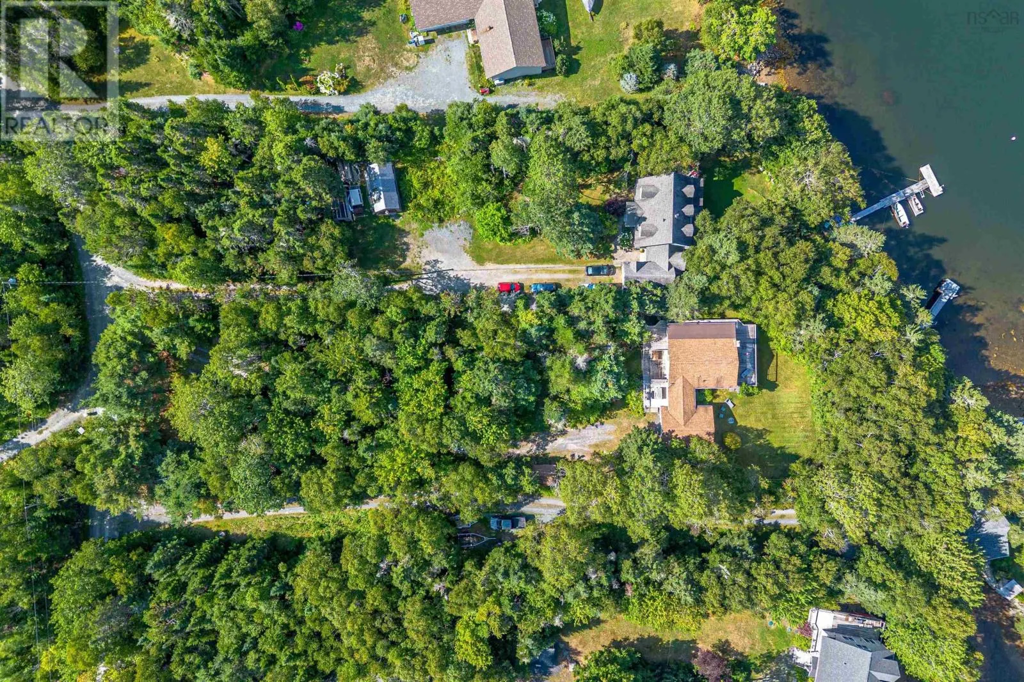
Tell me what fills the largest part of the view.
trees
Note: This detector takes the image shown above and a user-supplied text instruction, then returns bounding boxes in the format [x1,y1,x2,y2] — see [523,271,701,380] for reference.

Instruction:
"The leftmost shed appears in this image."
[366,161,400,216]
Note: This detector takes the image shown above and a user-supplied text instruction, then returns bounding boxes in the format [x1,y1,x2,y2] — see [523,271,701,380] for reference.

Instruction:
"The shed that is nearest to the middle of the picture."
[532,463,555,485]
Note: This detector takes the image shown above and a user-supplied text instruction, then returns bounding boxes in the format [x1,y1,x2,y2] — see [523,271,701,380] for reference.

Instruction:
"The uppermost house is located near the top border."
[410,0,558,80]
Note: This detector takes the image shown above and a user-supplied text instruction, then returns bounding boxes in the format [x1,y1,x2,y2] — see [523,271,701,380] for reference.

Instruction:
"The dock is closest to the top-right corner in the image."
[849,163,945,219]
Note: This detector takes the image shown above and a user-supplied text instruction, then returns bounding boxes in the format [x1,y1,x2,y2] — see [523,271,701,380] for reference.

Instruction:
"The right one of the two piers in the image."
[928,278,959,321]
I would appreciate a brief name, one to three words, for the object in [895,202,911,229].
boat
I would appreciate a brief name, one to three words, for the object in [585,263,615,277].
car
